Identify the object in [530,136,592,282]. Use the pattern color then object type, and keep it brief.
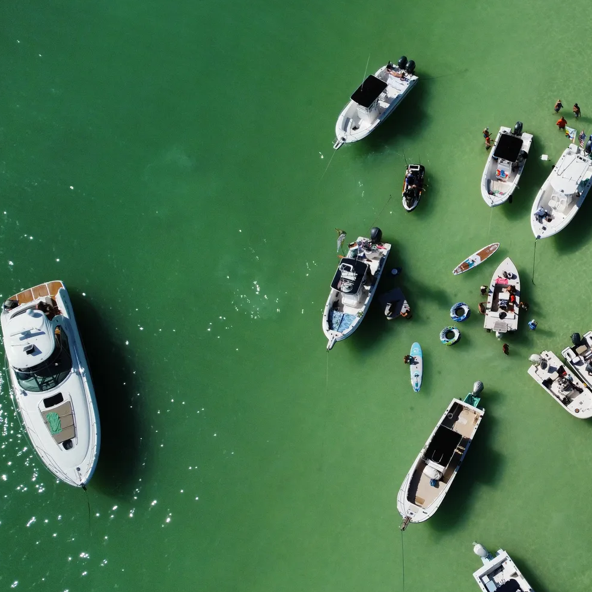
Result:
white boat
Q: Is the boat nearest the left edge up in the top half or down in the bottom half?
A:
bottom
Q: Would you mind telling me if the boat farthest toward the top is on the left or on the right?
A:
right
